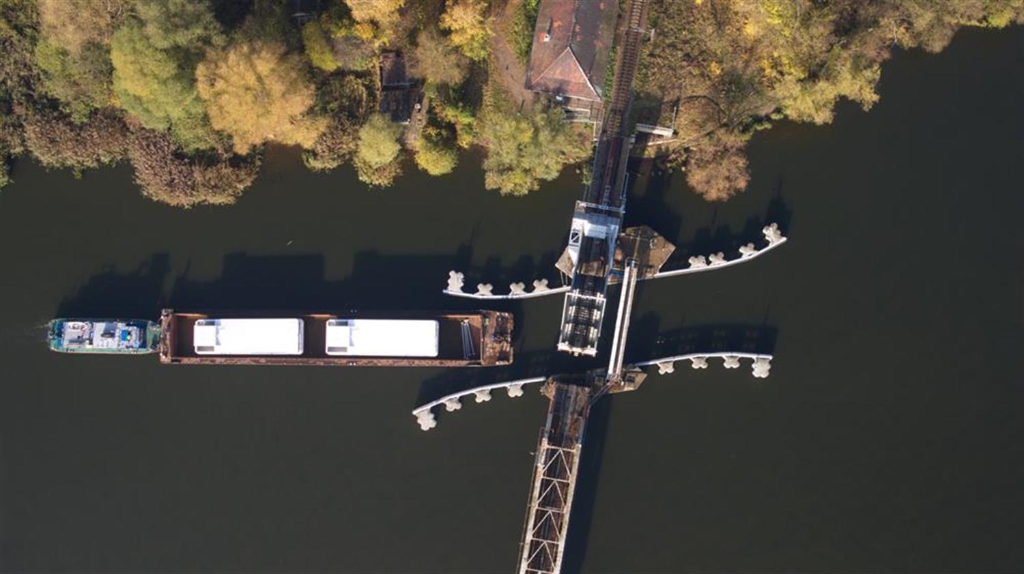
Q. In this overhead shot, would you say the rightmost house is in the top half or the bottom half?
top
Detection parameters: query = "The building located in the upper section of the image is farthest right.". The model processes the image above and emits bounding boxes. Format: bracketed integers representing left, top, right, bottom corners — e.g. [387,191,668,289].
[524,0,620,101]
